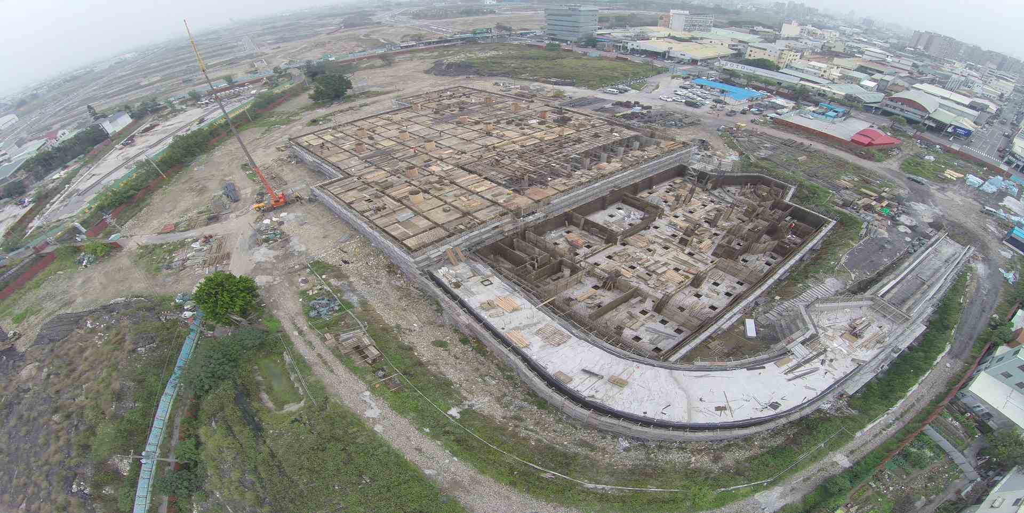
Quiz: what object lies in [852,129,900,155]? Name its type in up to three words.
building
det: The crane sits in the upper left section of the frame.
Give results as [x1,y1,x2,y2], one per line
[183,19,291,211]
